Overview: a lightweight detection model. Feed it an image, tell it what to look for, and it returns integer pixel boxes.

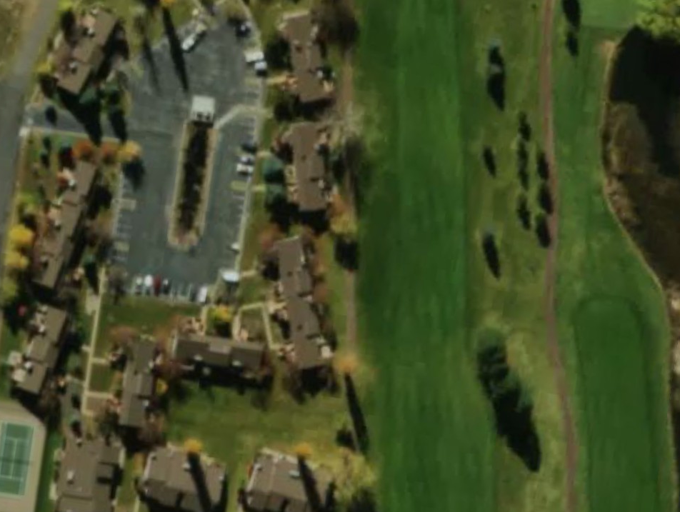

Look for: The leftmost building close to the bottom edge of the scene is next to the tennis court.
[46,436,119,512]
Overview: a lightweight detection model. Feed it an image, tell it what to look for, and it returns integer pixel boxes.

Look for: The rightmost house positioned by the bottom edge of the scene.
[243,441,338,512]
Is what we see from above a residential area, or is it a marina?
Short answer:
residential area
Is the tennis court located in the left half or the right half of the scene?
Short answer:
left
